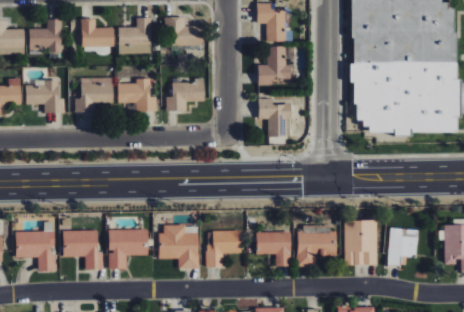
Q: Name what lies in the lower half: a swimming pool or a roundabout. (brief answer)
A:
swimming pool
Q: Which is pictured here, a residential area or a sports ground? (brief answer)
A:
residential area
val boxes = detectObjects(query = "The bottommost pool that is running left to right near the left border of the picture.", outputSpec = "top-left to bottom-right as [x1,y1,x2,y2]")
[14,218,55,232]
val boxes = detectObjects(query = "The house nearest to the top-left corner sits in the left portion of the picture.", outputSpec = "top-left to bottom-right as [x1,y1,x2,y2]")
[0,18,24,54]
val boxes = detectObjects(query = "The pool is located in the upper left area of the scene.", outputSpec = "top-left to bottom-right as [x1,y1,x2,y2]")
[22,68,48,84]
